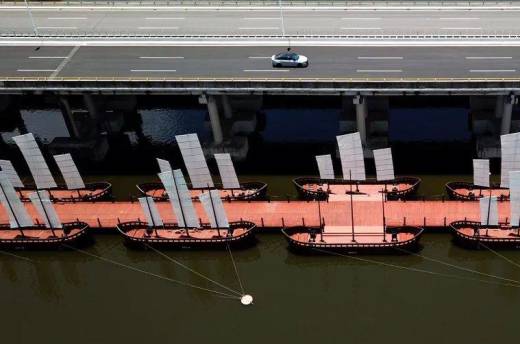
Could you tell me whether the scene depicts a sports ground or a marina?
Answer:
marina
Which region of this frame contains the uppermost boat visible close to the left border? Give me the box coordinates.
[0,132,106,201]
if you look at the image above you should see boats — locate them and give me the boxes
[452,171,520,249]
[291,131,420,200]
[132,132,263,201]
[281,169,422,254]
[448,131,520,201]
[111,166,253,249]
[0,132,106,201]
[0,169,84,249]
